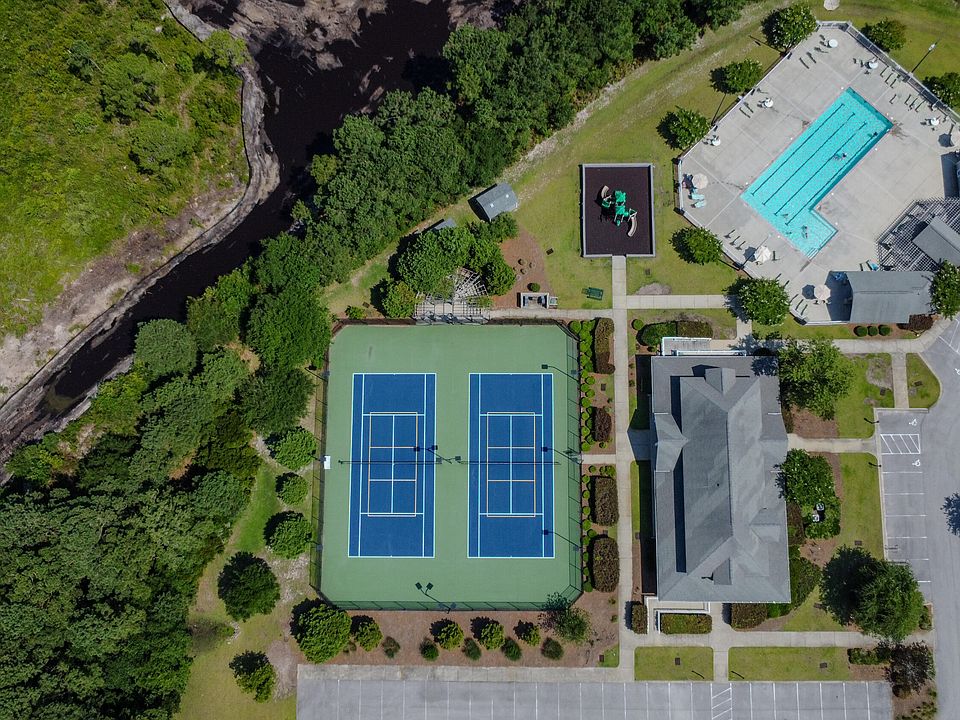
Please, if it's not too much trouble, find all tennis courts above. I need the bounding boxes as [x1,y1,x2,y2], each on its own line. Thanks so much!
[338,373,436,558]
[469,373,560,558]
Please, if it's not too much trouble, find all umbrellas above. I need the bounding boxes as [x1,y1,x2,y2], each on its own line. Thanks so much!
[812,283,831,302]
[755,247,772,264]
[692,173,710,190]
[946,130,960,148]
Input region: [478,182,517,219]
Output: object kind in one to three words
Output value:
shed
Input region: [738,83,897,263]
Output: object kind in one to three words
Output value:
swimming pool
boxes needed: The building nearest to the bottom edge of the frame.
[645,338,791,634]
